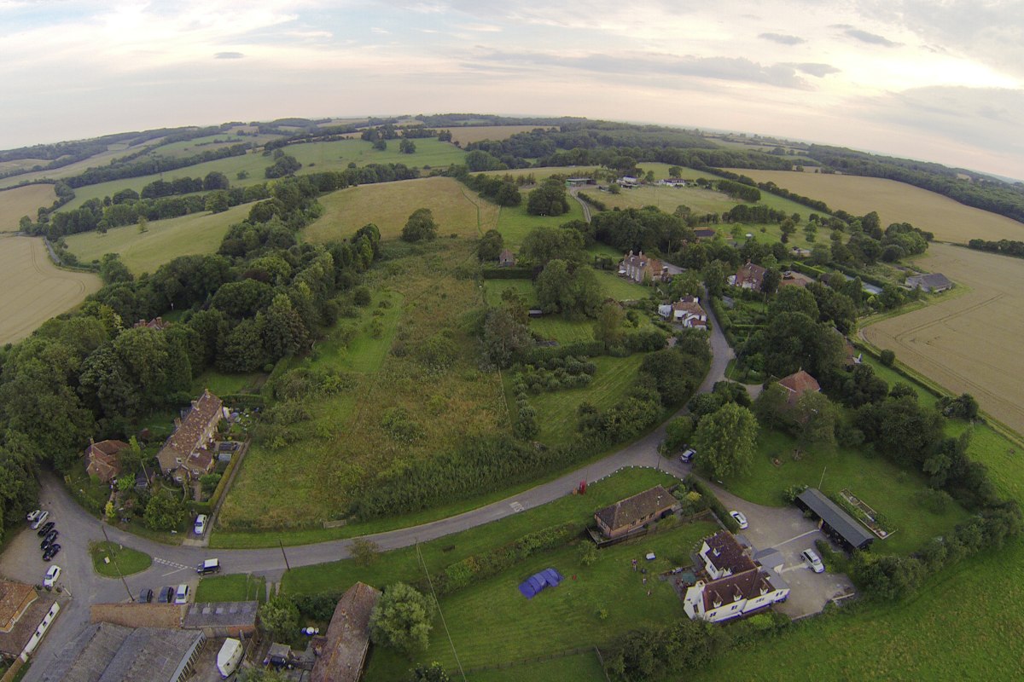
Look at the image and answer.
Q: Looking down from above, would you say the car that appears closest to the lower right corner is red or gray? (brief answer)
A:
gray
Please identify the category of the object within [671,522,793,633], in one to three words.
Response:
house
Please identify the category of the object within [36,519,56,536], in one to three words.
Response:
car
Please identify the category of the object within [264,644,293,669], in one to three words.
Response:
shed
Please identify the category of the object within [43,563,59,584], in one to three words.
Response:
car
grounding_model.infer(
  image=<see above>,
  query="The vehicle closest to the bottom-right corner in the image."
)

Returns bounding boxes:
[803,548,823,568]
